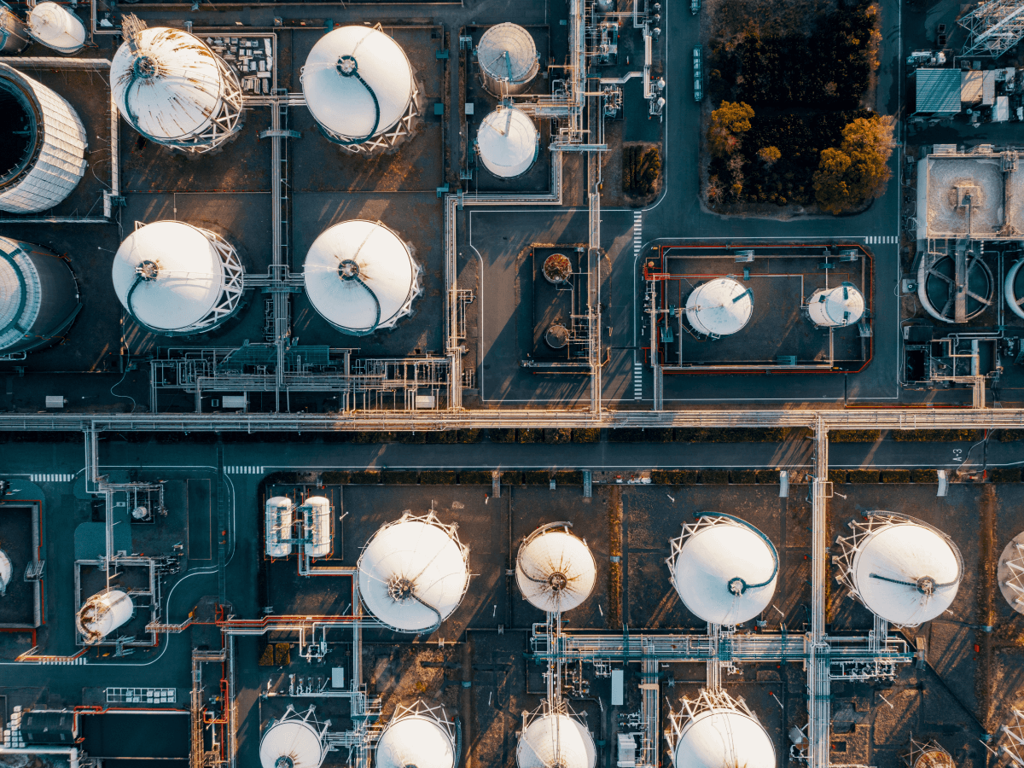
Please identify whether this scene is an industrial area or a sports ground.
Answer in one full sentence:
This looks like an industrial area.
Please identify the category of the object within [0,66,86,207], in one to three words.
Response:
storage tank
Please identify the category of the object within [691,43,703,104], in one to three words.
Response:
vehicle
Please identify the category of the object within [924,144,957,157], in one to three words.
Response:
shed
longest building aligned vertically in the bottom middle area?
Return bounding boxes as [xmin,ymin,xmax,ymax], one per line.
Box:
[610,665,623,705]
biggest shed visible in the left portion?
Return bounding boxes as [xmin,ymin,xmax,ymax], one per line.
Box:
[22,707,80,740]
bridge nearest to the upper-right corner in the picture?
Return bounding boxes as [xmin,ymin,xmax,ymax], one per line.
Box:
[955,240,968,322]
